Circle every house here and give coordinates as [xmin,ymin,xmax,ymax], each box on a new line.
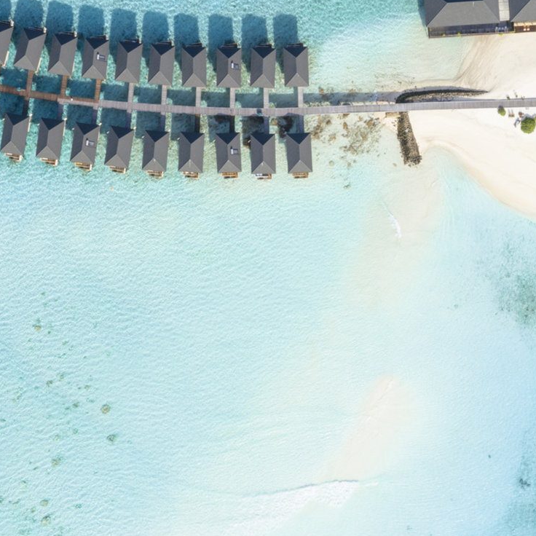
[248,41,277,90]
[69,122,102,170]
[0,18,18,67]
[14,24,51,73]
[424,0,514,38]
[0,113,33,162]
[36,117,68,166]
[181,41,208,89]
[214,41,242,89]
[82,32,112,81]
[48,28,81,77]
[141,130,171,178]
[214,131,241,179]
[105,126,137,174]
[283,131,313,179]
[147,39,176,86]
[282,40,310,88]
[115,36,146,85]
[178,132,206,179]
[248,132,275,180]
